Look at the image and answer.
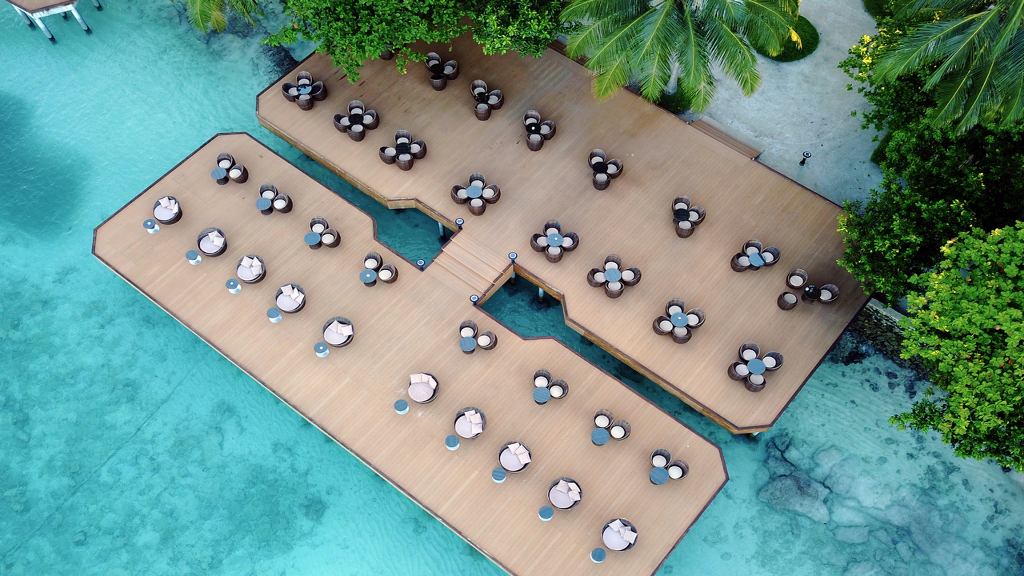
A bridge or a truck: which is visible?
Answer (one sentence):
The one in the frame is a bridge.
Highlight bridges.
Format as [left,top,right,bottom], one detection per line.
[421,228,512,307]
